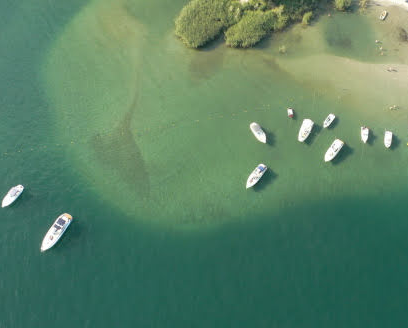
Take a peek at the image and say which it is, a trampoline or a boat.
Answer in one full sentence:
It is a boat that can be seen here.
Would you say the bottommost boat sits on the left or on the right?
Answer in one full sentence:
You can find the bottommost boat on the left side of the picture.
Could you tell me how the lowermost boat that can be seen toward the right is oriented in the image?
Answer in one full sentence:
The lowermost boat that can be seen toward the right is oriented at an angle.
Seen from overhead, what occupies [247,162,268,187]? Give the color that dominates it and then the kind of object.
white boat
